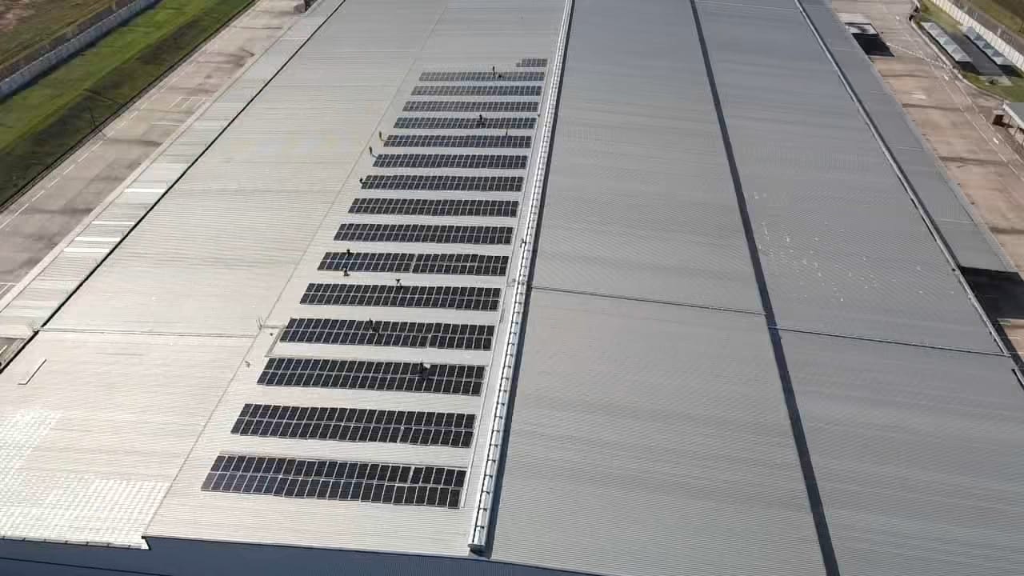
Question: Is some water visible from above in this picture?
No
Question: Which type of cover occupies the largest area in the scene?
buildings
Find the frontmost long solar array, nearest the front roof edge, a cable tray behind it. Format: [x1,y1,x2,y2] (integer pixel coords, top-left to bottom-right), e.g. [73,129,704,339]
[200,456,466,507]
